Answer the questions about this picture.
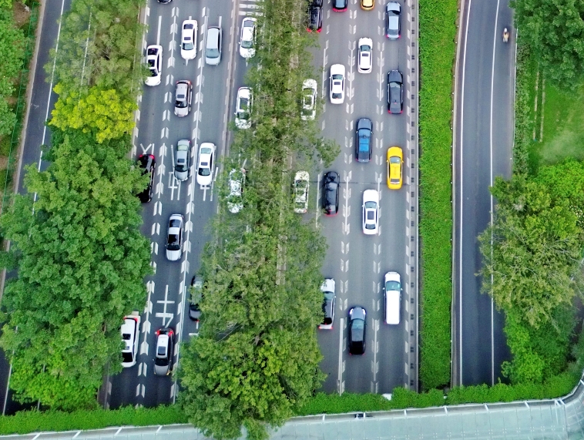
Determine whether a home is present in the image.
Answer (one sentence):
No, no home is visible in the view.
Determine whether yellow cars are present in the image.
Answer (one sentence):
Yes, the image includes a yellow car.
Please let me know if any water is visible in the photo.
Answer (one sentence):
No, water can't be seen anywhere here.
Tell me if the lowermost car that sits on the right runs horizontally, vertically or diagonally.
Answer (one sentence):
The lowermost car that sits on the right is laid out vertically.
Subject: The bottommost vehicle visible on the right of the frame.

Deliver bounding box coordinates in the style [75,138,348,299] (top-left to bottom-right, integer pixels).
[347,303,368,357]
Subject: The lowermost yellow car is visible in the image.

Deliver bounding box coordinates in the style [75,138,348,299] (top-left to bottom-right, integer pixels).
[385,145,405,190]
